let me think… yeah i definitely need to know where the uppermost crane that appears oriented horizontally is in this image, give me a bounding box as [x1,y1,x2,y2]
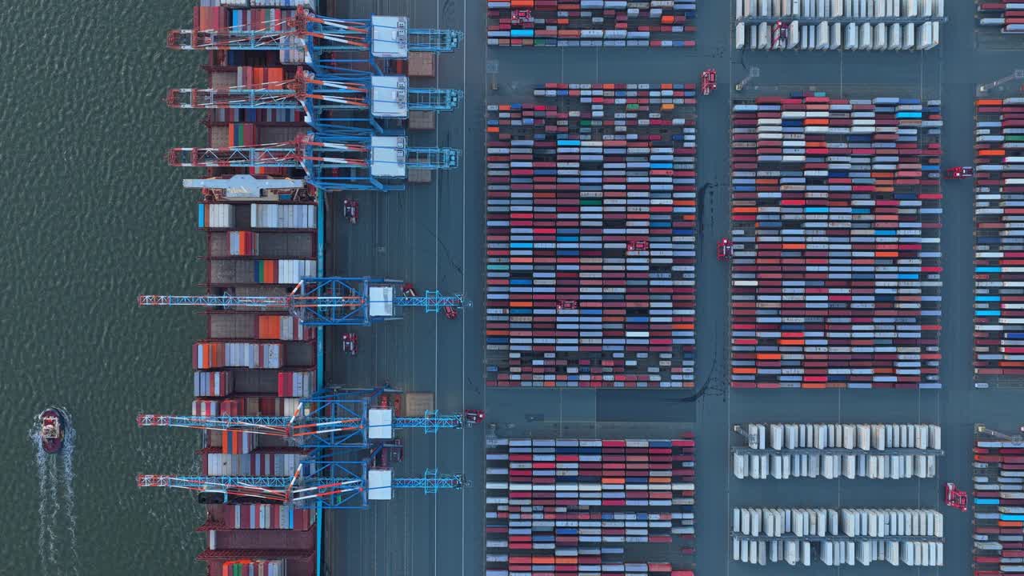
[161,8,462,88]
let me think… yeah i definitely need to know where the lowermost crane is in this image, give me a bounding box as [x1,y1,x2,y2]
[135,434,467,510]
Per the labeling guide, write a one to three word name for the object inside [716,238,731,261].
work vehicle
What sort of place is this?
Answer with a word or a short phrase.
port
